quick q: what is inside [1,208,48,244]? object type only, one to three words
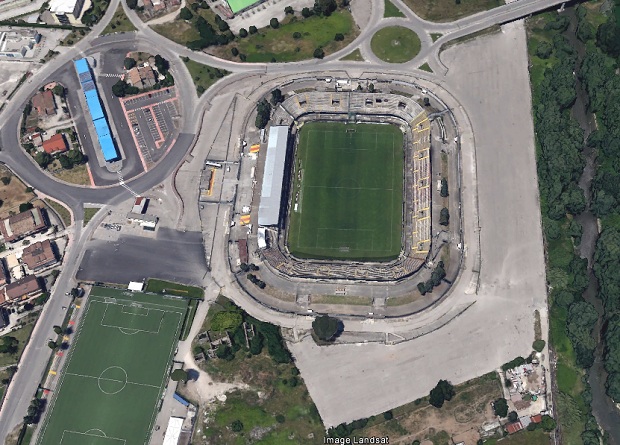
building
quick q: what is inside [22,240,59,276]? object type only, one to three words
house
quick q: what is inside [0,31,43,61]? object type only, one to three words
building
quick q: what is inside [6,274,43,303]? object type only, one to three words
house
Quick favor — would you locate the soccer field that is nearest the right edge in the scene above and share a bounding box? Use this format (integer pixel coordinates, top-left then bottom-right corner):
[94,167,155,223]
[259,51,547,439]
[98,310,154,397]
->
[287,122,403,262]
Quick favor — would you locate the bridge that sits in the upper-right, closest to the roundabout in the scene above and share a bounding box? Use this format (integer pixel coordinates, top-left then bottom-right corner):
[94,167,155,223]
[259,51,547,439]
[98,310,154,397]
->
[438,0,577,41]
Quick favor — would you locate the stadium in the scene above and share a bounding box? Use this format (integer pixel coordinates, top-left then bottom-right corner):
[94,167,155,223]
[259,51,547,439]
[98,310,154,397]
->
[257,81,449,285]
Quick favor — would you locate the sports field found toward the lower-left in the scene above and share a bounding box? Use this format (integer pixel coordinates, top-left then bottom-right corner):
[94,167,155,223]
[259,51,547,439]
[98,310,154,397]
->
[36,287,190,445]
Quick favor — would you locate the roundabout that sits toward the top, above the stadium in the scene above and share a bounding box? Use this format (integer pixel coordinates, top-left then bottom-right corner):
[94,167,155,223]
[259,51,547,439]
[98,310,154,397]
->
[360,18,433,71]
